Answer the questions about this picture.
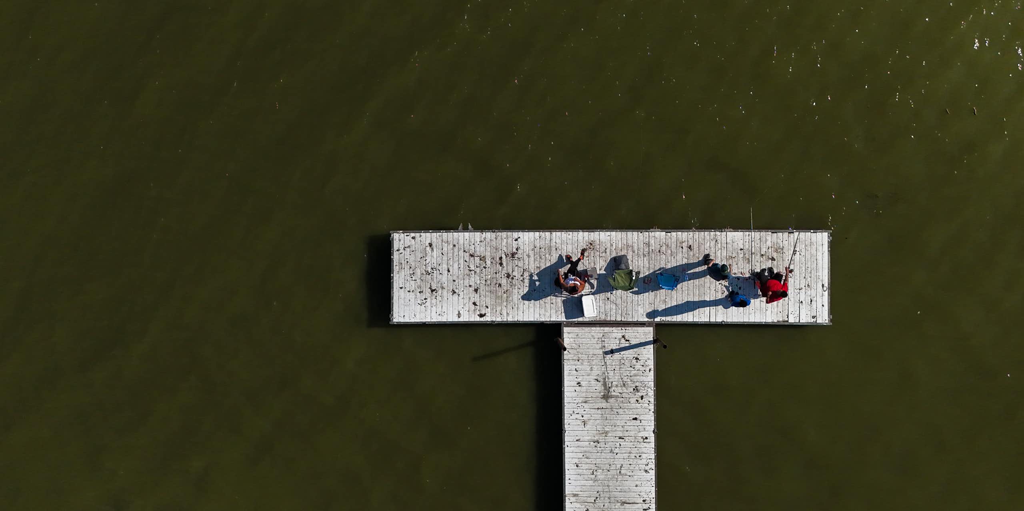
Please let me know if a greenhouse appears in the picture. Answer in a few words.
No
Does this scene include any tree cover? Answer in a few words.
No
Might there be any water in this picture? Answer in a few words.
Yes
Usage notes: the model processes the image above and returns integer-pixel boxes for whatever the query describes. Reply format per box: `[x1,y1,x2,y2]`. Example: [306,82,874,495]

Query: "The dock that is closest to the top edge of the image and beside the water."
[390,223,832,325]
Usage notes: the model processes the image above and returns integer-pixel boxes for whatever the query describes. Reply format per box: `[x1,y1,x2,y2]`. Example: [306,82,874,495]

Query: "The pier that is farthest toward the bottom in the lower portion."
[555,324,661,511]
